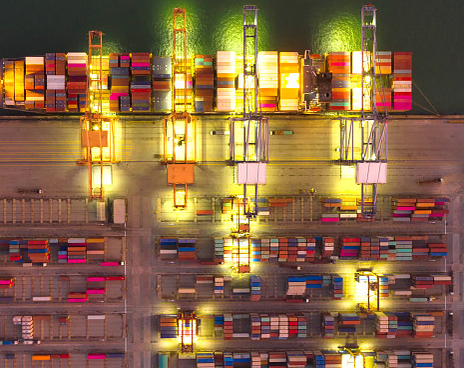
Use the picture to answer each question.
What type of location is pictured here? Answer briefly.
port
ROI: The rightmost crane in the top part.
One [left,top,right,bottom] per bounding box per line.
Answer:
[334,5,392,218]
